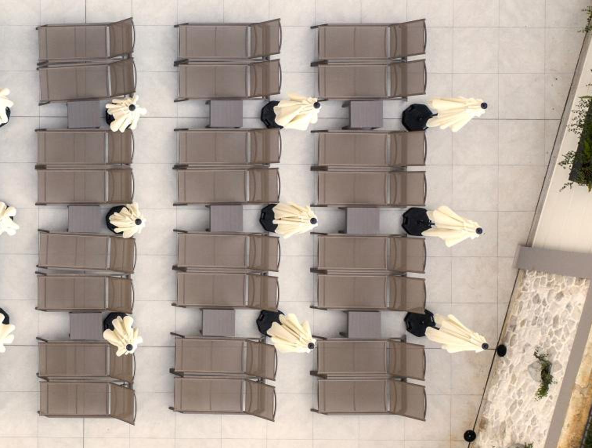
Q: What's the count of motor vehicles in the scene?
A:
none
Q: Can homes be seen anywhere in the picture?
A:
No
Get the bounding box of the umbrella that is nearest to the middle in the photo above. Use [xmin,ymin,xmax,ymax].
[259,199,319,240]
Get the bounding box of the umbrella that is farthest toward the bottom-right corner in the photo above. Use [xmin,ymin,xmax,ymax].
[405,311,489,352]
